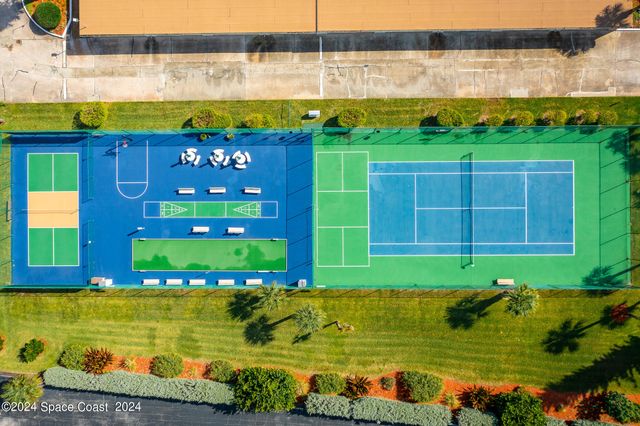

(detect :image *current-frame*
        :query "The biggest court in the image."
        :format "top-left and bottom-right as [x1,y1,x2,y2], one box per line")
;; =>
[314,129,630,289]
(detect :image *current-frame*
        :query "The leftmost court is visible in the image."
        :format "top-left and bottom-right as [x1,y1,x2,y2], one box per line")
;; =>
[27,153,79,266]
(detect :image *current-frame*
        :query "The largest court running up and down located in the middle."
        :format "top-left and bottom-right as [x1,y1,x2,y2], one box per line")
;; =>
[316,151,369,266]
